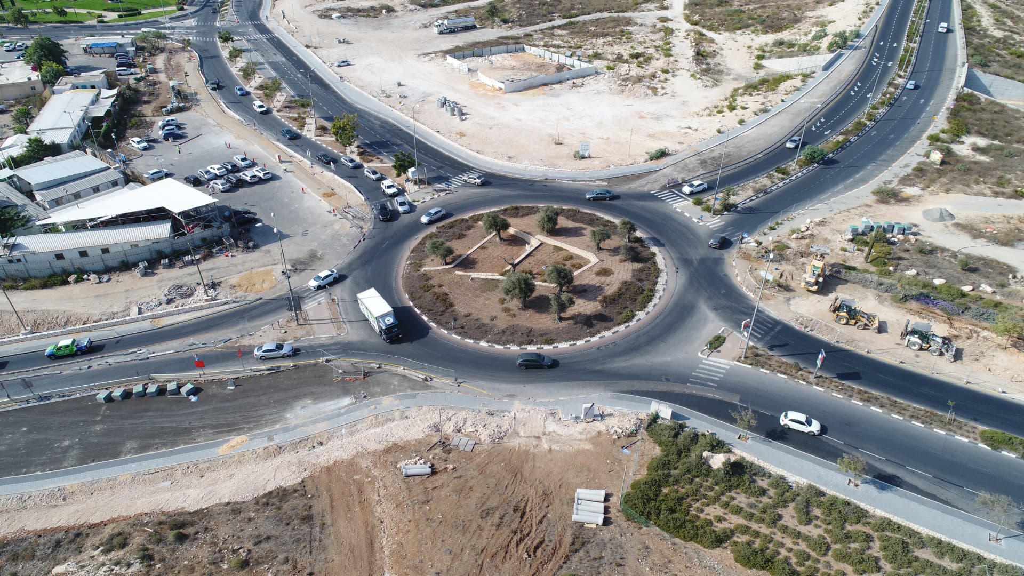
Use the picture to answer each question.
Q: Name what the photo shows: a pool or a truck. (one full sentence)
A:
Visible in the photo is a truck.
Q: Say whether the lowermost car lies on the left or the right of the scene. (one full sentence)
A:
You can find the lowermost car on the right side of the picture.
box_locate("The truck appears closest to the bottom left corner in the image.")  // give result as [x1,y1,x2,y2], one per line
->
[44,339,93,362]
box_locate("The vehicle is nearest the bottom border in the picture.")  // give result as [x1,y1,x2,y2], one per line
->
[777,410,822,437]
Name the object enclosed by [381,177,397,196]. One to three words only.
car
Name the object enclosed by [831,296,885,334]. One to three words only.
work vehicle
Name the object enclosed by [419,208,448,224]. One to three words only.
car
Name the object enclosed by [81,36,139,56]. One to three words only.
shed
